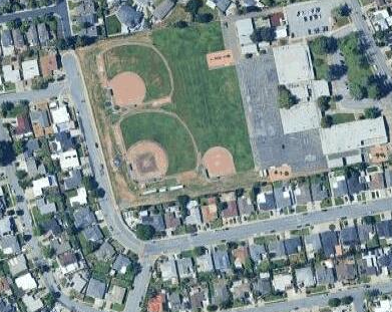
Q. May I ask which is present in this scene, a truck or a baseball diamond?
baseball diamond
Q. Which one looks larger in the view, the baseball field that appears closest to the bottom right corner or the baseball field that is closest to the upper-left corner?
the baseball field that is closest to the upper-left corner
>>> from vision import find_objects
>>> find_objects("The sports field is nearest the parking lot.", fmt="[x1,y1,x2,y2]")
[179,28,248,145]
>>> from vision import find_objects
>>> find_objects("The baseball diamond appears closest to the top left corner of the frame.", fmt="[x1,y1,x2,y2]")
[99,42,174,110]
